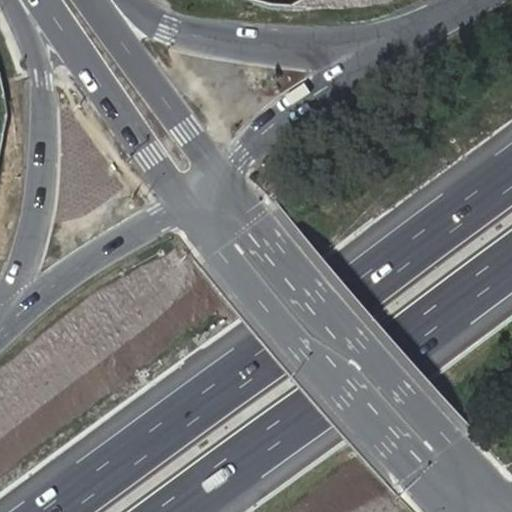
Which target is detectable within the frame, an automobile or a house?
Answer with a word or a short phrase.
automobile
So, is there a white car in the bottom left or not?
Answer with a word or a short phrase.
Yes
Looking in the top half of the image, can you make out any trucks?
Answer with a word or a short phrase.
Yes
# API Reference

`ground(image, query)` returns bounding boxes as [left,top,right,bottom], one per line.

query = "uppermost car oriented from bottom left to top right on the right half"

[323,62,345,81]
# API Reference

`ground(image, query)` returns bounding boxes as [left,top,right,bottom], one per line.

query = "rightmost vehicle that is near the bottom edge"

[202,462,238,493]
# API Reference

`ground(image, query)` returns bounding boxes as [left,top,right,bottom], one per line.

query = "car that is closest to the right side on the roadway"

[450,204,472,222]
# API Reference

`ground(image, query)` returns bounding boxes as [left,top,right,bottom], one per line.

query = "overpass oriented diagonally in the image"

[192,194,467,496]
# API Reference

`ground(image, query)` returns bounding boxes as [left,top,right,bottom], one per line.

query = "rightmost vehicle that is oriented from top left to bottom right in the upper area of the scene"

[120,124,140,148]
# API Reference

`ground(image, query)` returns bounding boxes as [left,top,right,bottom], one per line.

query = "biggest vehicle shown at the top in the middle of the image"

[274,82,311,114]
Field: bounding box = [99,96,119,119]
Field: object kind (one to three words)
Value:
car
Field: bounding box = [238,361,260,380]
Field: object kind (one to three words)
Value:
car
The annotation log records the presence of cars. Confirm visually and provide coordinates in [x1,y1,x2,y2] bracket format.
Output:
[34,186,46,210]
[33,141,45,166]
[288,104,308,120]
[323,62,345,81]
[238,361,260,380]
[99,96,119,119]
[78,68,98,92]
[18,290,42,310]
[46,500,66,512]
[372,263,394,282]
[102,235,124,255]
[120,124,140,148]
[29,0,42,8]
[236,26,260,38]
[36,486,58,506]
[5,260,22,284]
[252,108,276,130]
[450,204,472,222]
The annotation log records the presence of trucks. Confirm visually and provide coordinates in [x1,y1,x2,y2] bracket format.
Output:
[274,82,311,114]
[202,462,238,493]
